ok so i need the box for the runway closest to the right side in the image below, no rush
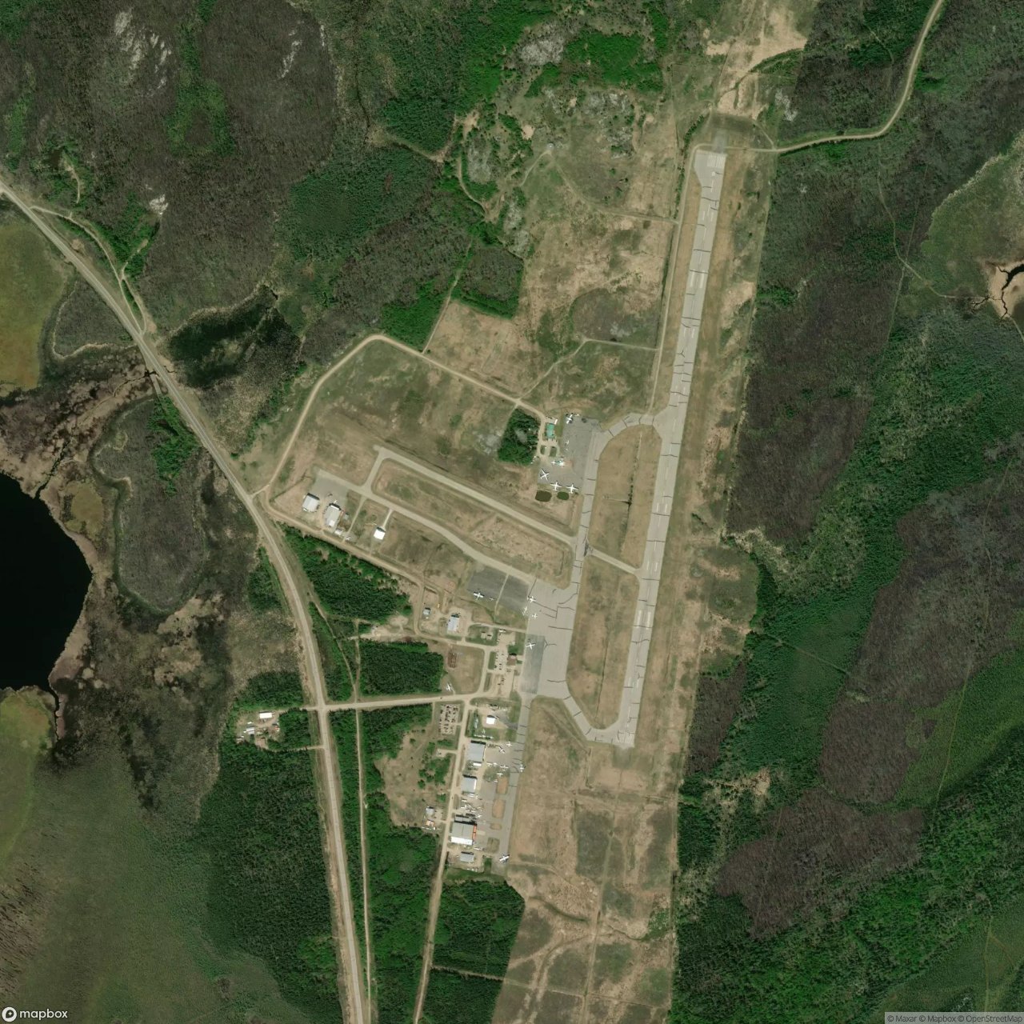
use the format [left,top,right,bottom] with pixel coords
[615,150,727,750]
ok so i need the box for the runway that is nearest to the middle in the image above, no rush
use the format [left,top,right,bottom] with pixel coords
[374,445,635,573]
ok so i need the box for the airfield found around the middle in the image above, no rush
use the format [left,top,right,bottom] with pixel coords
[308,131,727,877]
